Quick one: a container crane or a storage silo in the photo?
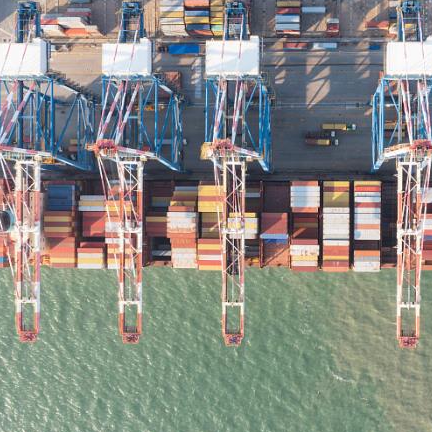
container crane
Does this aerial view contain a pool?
No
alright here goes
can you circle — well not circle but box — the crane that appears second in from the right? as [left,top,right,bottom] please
[204,1,273,345]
